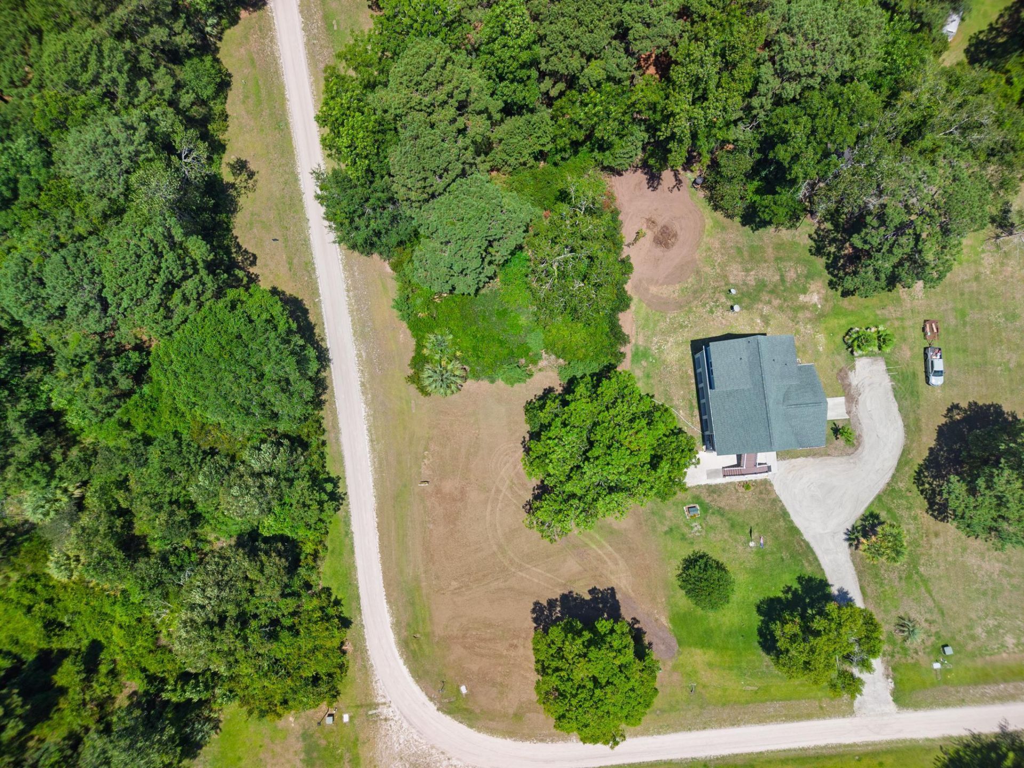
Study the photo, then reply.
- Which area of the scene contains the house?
right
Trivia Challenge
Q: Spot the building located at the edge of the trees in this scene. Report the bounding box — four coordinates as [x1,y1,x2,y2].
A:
[695,334,828,455]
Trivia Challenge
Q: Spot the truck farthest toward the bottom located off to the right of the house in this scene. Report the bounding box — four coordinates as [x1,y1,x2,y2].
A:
[923,346,944,387]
